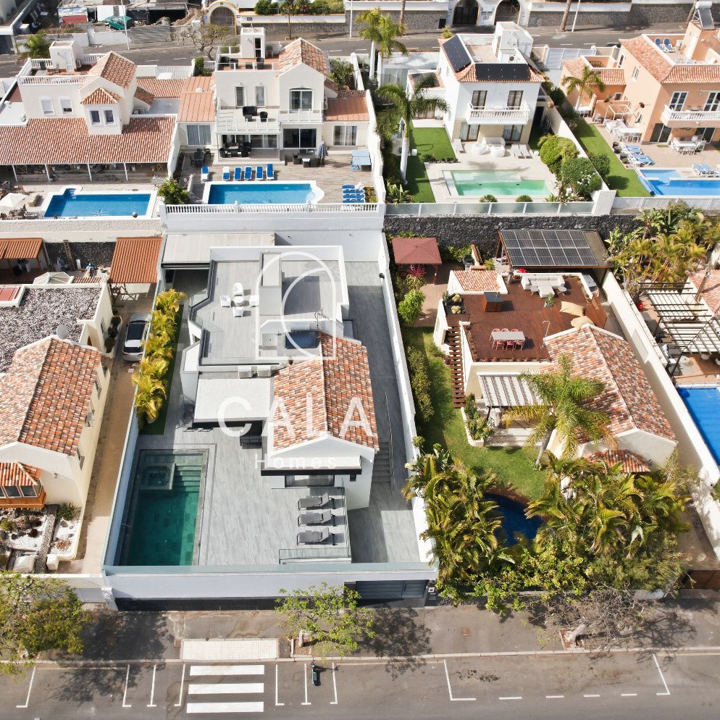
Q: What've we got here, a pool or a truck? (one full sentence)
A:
The one in the frame is a pool.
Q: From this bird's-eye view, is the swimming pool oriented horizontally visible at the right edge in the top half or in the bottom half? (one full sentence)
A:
The swimming pool oriented horizontally visible at the right edge sits in the top half of the picture.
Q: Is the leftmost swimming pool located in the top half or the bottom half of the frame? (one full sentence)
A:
The leftmost swimming pool is in the top half of the image.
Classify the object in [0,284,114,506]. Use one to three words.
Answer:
house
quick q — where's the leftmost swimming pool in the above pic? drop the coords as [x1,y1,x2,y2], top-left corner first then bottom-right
[38,186,156,216]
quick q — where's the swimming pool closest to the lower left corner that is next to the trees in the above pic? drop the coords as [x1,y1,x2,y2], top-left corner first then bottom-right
[121,447,211,573]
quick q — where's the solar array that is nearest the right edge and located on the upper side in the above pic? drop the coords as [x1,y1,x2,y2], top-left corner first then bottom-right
[503,230,595,265]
